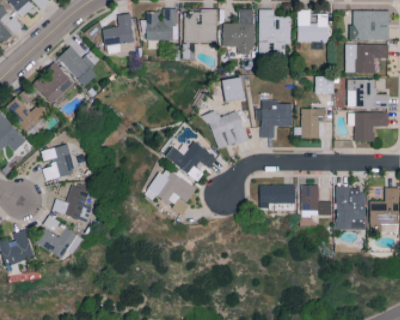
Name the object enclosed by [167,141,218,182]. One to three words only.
house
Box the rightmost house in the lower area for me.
[370,188,400,234]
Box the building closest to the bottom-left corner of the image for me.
[0,229,34,266]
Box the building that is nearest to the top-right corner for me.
[349,11,390,41]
